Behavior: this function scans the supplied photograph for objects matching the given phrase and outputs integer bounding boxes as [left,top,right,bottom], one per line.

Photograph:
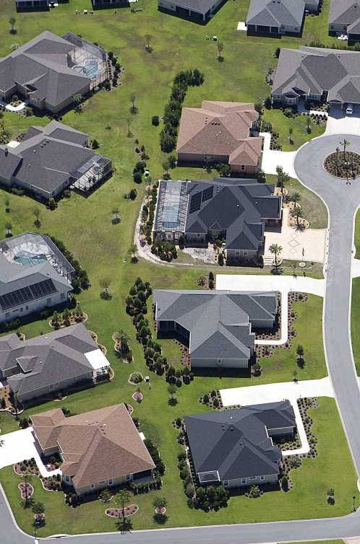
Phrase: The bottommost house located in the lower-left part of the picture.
[30,405,155,493]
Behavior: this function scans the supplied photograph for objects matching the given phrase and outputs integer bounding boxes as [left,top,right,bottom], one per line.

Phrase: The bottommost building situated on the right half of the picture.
[182,403,300,491]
